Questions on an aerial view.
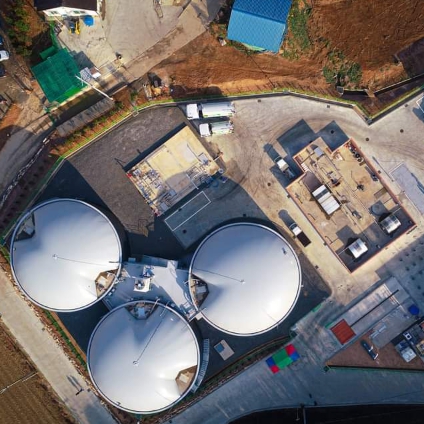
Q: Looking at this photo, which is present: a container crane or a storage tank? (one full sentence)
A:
Looking from above, you can make out a storage tank.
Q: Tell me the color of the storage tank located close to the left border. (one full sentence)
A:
The storage tank located close to the left border is white.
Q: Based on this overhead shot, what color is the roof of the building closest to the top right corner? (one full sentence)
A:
From above, the roof of the building closest to the top right corner looks blue.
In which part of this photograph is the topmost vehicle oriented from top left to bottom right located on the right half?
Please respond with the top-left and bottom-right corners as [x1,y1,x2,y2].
[274,155,299,182]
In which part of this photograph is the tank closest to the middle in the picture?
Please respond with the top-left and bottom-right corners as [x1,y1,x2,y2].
[187,222,301,334]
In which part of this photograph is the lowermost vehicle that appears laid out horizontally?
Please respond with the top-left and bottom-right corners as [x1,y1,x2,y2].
[199,121,235,138]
